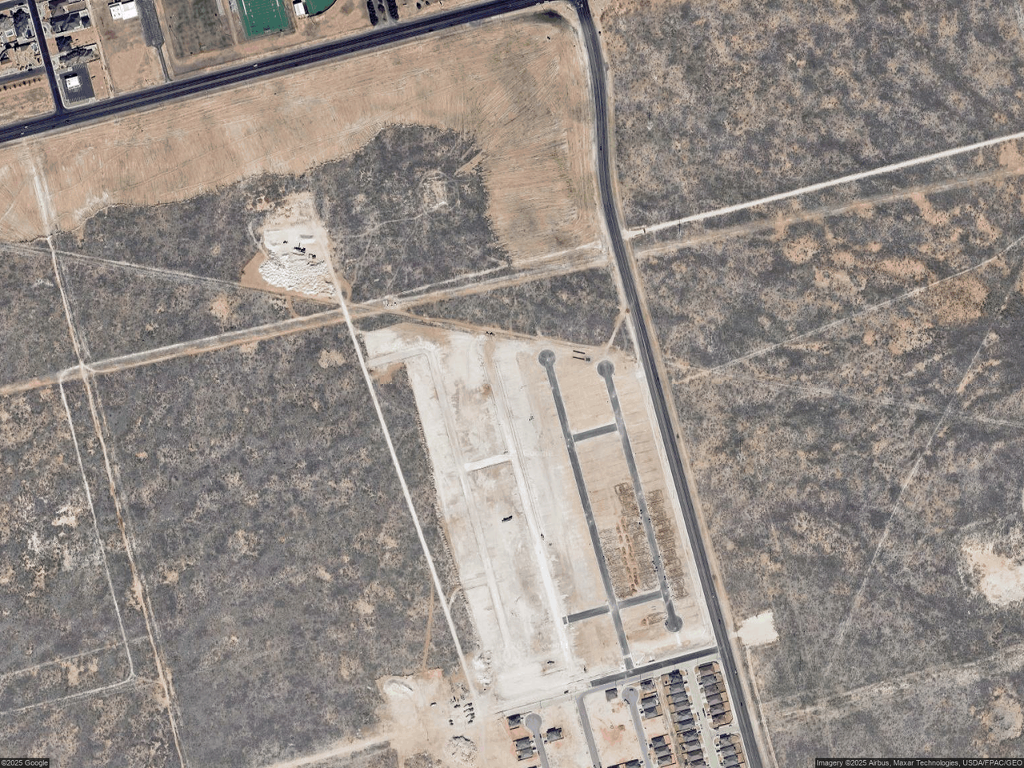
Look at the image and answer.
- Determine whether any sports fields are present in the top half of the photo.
Yes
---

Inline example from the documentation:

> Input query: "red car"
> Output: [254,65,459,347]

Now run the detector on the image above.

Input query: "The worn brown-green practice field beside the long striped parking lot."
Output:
[172,0,230,58]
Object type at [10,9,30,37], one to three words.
house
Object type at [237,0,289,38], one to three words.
sports field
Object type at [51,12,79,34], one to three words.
house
